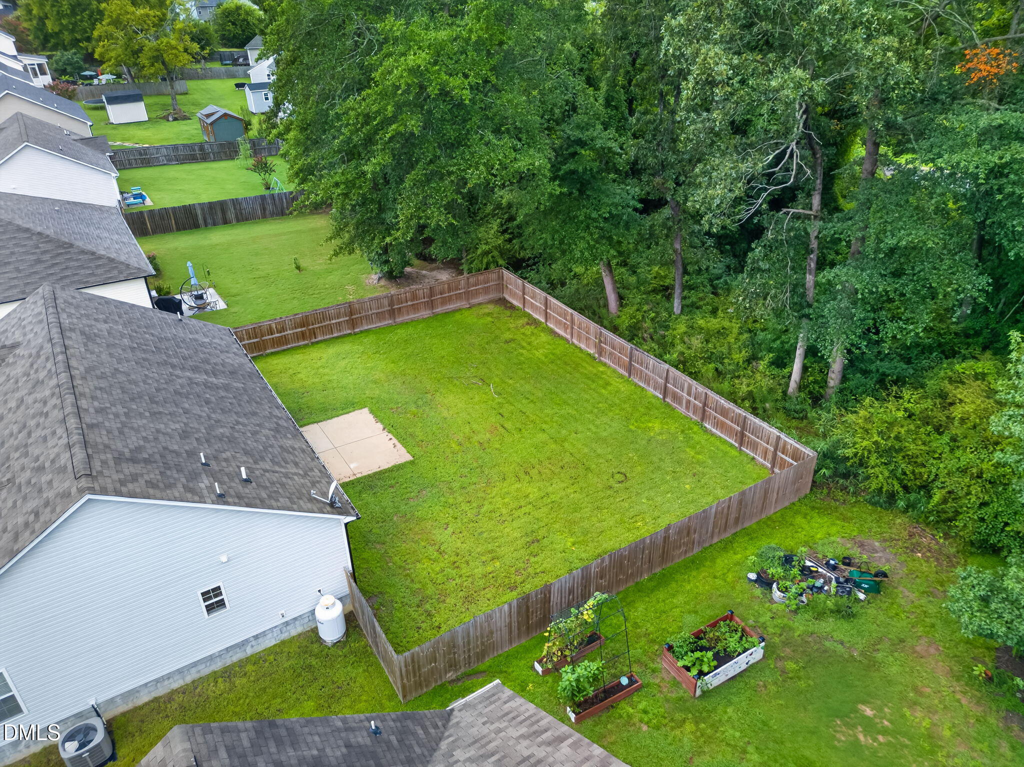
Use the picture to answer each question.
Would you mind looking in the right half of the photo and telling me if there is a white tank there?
No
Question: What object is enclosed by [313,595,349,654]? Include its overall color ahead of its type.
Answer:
white storage tank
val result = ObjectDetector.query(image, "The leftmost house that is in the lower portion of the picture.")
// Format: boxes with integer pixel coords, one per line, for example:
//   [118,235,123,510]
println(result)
[0,283,368,767]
